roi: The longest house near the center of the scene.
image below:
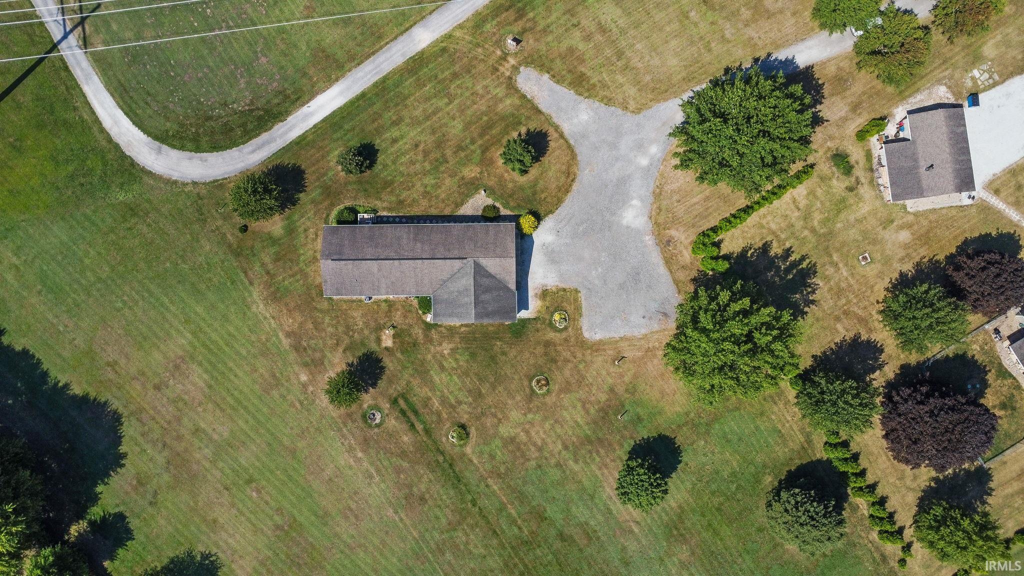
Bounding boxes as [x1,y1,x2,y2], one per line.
[321,223,517,323]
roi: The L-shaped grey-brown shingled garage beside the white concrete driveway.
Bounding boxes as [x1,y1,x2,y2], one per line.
[880,108,976,202]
